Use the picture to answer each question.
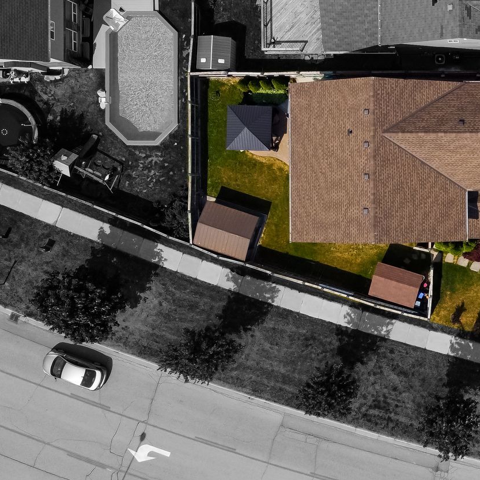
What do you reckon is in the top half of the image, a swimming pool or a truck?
swimming pool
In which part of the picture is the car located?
bottom left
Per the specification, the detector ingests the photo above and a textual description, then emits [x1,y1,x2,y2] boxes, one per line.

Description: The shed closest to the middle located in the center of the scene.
[194,201,264,261]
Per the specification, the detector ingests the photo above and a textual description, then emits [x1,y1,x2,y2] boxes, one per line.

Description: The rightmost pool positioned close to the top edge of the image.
[106,11,184,145]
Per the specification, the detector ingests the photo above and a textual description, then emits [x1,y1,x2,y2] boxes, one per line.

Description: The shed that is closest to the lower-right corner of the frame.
[369,263,426,308]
